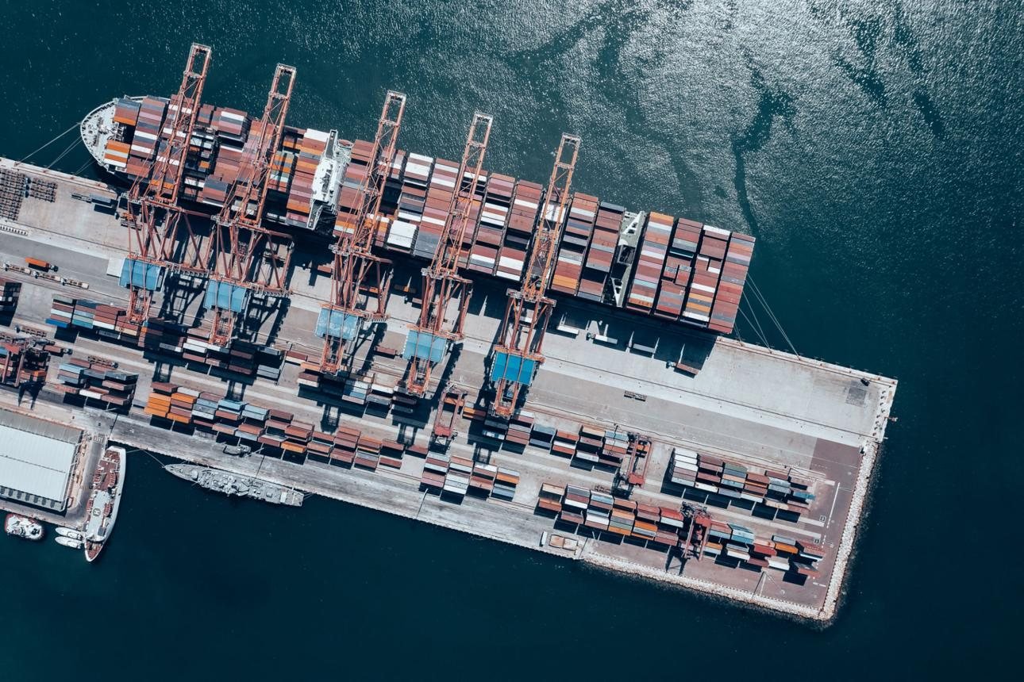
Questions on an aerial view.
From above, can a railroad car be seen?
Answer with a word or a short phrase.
No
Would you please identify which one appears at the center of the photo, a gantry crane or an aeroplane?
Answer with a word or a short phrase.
gantry crane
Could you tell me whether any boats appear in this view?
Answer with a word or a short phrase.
Yes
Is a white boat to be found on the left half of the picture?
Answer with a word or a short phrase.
Yes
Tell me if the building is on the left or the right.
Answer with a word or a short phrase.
left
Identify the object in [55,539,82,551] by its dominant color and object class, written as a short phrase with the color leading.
white boat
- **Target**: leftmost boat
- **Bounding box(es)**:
[4,511,46,542]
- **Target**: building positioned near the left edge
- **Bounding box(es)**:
[0,405,88,511]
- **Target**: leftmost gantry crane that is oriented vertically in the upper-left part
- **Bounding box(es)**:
[123,38,223,327]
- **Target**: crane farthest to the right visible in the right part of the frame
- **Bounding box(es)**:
[673,505,716,567]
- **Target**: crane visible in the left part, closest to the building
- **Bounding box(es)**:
[0,339,51,395]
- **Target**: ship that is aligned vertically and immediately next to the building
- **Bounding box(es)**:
[80,444,127,563]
